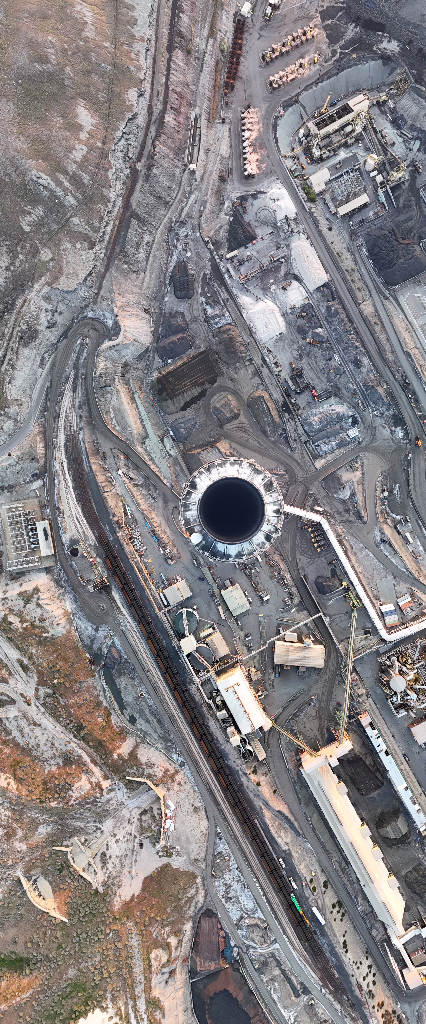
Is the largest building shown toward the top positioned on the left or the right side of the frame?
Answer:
right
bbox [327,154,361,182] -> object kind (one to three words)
building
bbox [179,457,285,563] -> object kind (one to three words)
chimney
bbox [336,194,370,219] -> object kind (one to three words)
shed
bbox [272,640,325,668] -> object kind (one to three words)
building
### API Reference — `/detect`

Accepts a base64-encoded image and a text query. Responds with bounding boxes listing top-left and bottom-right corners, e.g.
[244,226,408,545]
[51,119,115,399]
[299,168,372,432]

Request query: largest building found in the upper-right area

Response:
[305,94,370,144]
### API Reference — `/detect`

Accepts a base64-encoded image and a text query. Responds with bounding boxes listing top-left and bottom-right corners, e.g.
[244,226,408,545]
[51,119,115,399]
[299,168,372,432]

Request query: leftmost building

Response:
[36,520,56,556]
